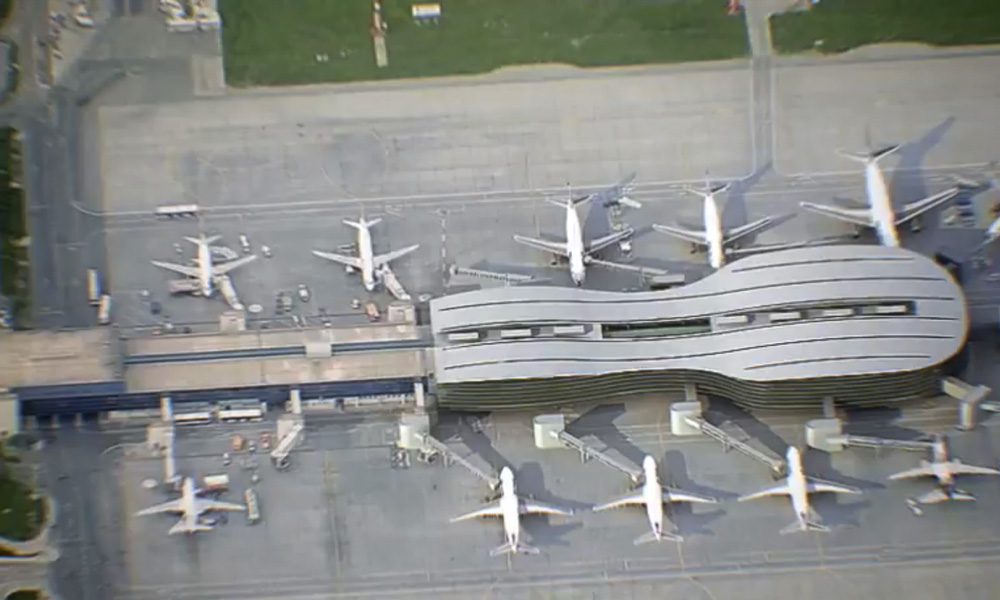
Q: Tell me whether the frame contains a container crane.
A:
No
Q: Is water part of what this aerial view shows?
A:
No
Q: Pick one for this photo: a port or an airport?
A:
airport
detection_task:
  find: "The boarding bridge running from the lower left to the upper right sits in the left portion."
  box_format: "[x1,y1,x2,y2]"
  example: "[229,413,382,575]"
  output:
[268,424,306,471]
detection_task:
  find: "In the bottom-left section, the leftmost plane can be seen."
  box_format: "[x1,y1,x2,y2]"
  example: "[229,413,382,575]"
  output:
[136,478,245,538]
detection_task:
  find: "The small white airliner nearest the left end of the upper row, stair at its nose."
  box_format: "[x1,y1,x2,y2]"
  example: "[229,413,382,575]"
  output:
[150,225,256,298]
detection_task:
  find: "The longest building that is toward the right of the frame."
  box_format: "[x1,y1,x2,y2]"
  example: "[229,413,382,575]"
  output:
[431,246,967,409]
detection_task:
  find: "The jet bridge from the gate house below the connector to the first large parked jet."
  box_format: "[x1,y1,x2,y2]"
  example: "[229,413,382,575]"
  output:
[415,426,502,492]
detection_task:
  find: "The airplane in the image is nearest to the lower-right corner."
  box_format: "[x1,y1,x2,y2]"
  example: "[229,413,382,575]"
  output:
[891,437,1000,507]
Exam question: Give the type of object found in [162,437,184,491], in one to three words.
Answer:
jet bridge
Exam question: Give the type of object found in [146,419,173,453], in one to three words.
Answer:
building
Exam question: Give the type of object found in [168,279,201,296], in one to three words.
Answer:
work vehicle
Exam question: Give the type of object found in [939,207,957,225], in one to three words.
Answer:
vehicle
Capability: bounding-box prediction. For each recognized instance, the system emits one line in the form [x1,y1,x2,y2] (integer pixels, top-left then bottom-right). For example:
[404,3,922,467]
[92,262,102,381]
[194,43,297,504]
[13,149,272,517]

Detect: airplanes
[447,466,575,554]
[652,173,771,271]
[593,455,719,542]
[891,437,1000,507]
[150,225,256,298]
[737,447,862,533]
[136,478,245,538]
[515,185,633,285]
[805,136,960,248]
[312,202,418,291]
